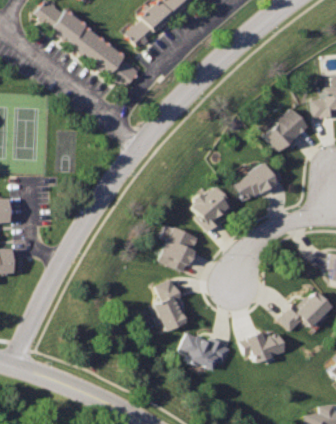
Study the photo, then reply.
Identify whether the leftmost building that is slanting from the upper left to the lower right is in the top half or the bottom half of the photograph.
top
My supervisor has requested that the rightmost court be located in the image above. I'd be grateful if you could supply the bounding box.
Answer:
[54,130,76,174]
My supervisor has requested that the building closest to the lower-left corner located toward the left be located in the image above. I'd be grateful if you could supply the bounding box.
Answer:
[0,248,16,274]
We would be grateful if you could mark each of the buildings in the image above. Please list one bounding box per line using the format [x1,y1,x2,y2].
[324,350,336,379]
[278,288,330,335]
[324,255,336,287]
[31,0,138,84]
[150,280,186,332]
[0,248,16,274]
[192,186,231,232]
[266,106,306,153]
[239,332,286,364]
[302,406,336,424]
[157,226,196,274]
[308,77,336,118]
[174,332,230,370]
[122,0,188,44]
[231,163,276,203]
[0,198,12,224]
